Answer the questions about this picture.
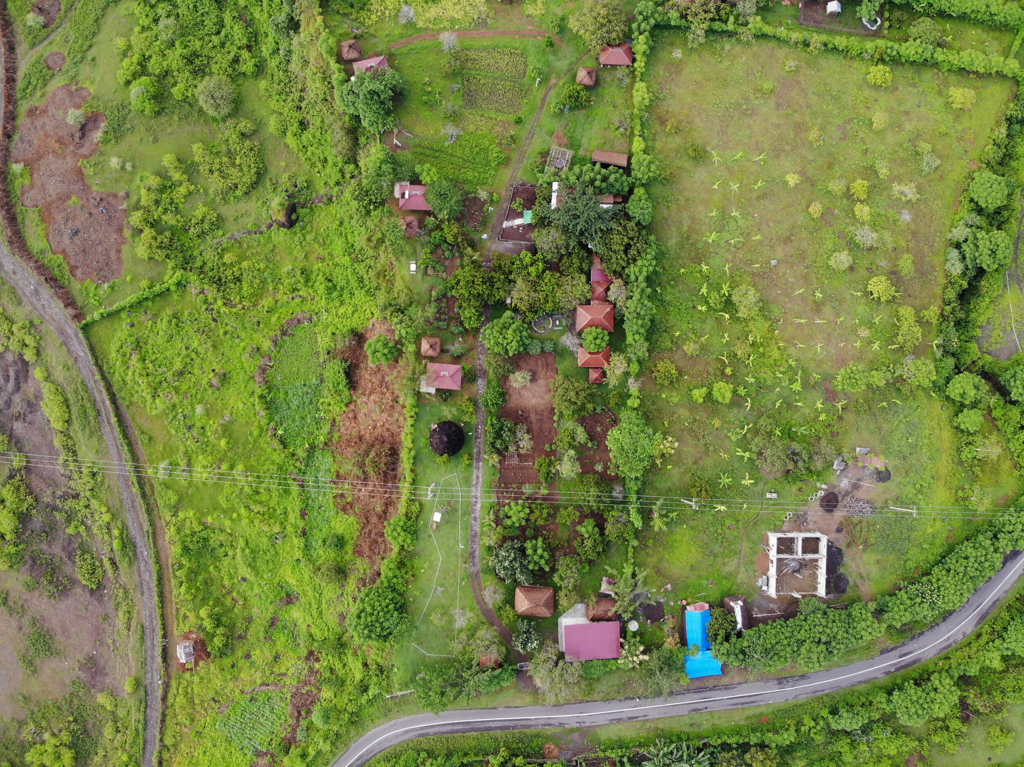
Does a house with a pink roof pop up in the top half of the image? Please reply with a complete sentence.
Yes, a house with a pink roof shows up in the top half of the image.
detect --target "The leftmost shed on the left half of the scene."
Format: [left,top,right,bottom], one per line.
[176,643,195,664]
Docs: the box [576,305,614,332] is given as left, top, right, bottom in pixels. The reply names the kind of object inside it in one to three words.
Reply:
house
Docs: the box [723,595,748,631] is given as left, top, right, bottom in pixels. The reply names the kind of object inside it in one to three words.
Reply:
barn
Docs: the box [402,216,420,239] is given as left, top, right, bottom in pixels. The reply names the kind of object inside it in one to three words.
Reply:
shed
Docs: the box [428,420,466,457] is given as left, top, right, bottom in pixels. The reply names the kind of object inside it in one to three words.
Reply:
building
